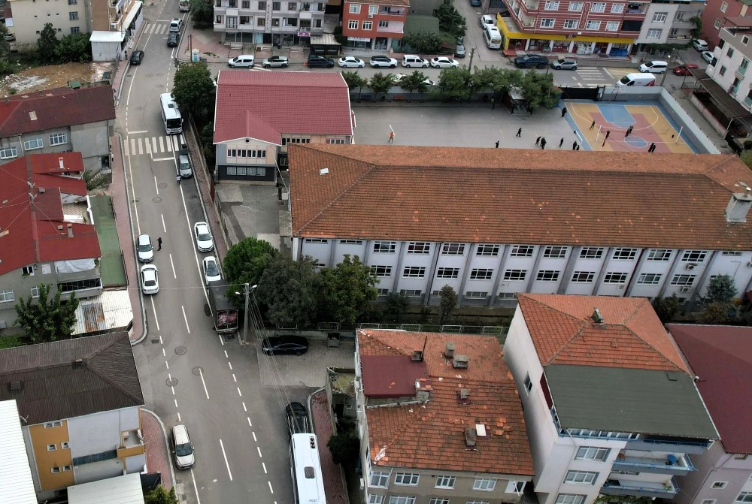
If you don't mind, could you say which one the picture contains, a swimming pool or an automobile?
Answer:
automobile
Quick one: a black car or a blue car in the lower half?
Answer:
black car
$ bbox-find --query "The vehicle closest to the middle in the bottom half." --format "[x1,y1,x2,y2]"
[263,335,309,357]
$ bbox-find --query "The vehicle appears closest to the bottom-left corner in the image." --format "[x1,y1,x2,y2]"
[171,423,196,470]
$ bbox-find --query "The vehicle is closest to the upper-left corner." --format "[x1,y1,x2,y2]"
[131,49,145,63]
